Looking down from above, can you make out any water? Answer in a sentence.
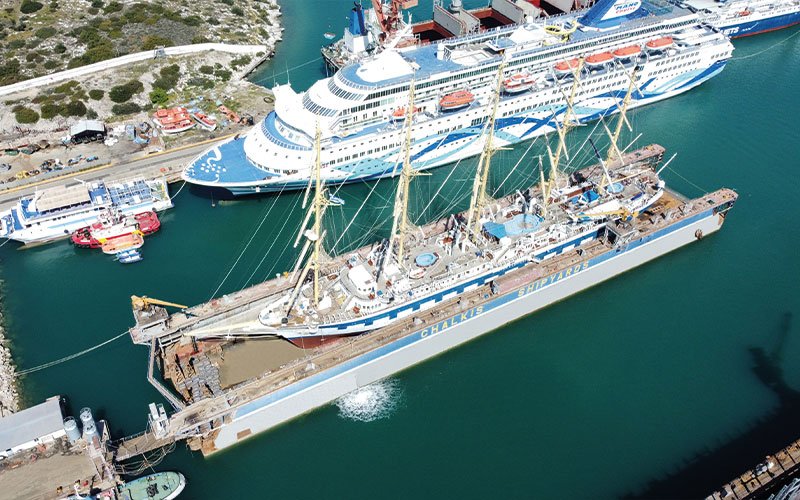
Yes, there's water in this view.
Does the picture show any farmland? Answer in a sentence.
No, no farmland is visible.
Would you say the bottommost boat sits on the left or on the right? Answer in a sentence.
The bottommost boat is on the left side of the image.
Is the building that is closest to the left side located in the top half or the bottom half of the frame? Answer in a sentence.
You can find the building that is closest to the left side in the bottom half.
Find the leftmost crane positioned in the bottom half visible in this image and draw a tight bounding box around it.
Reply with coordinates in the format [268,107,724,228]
[124,288,193,322]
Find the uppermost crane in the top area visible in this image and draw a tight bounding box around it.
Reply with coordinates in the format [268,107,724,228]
[370,0,420,48]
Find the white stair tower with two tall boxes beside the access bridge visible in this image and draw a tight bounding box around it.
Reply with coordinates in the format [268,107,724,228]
[141,395,175,444]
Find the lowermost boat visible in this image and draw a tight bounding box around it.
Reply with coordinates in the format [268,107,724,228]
[115,469,191,500]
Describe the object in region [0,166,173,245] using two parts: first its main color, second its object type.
white ship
